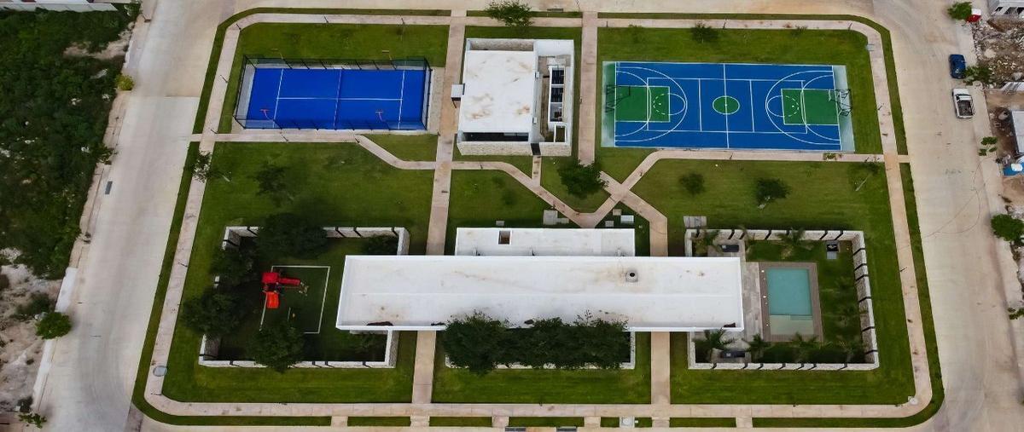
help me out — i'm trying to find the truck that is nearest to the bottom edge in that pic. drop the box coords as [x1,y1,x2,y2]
[954,86,975,119]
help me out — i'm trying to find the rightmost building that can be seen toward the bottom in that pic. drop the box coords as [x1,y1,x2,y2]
[336,226,745,340]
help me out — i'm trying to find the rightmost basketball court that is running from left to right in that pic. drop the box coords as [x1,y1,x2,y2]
[601,61,855,150]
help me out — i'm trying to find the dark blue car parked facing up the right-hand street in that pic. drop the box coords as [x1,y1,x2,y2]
[947,53,966,79]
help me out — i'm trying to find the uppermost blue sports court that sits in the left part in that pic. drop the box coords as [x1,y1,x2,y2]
[230,56,446,137]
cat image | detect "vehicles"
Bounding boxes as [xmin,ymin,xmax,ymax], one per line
[947,53,966,79]
[954,86,975,119]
